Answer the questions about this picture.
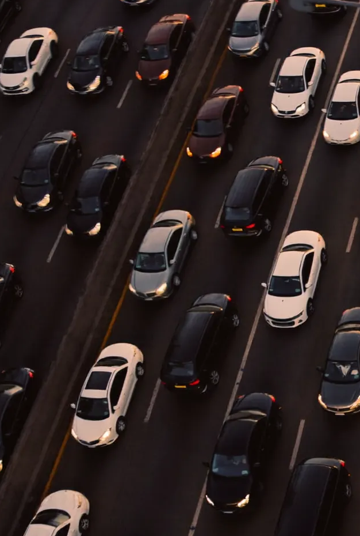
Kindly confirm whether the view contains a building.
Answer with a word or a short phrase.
No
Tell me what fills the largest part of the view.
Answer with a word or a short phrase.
paved ground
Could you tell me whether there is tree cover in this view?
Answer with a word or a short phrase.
No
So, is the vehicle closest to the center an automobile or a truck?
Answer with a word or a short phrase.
automobile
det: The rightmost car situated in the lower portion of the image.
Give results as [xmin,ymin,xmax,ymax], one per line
[316,310,360,415]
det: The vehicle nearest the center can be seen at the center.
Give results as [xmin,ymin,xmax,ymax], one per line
[130,212,198,301]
